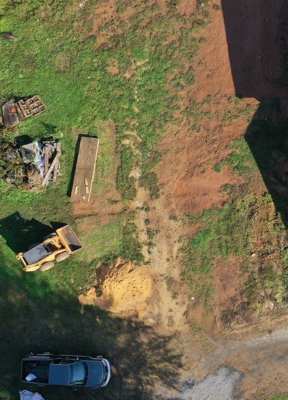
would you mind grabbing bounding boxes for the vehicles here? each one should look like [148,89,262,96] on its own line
[24,355,115,395]
[8,224,80,273]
